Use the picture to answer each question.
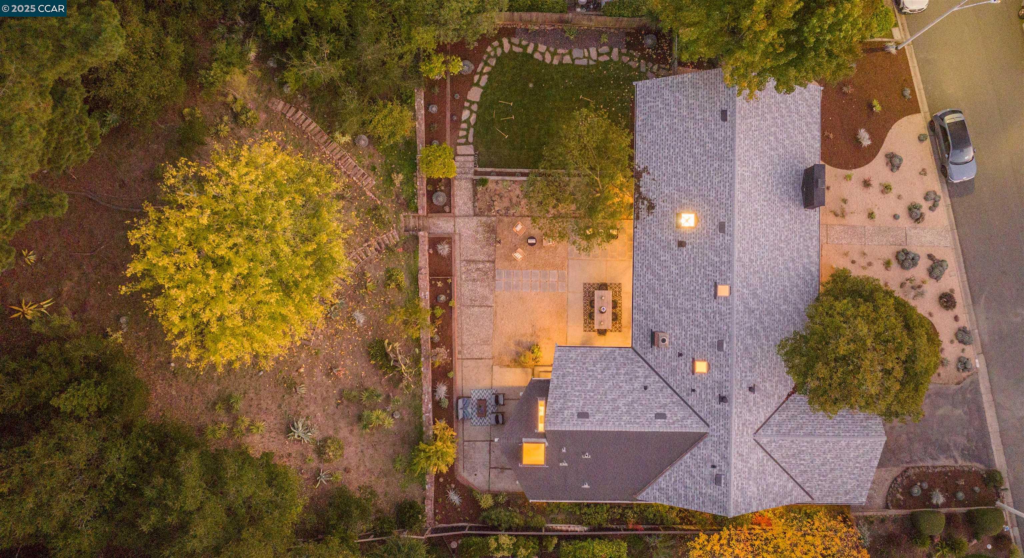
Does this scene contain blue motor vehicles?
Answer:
No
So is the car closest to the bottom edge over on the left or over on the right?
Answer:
right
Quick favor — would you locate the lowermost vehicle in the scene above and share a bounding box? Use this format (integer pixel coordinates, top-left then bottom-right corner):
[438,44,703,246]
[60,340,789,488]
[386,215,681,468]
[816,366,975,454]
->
[931,107,983,184]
